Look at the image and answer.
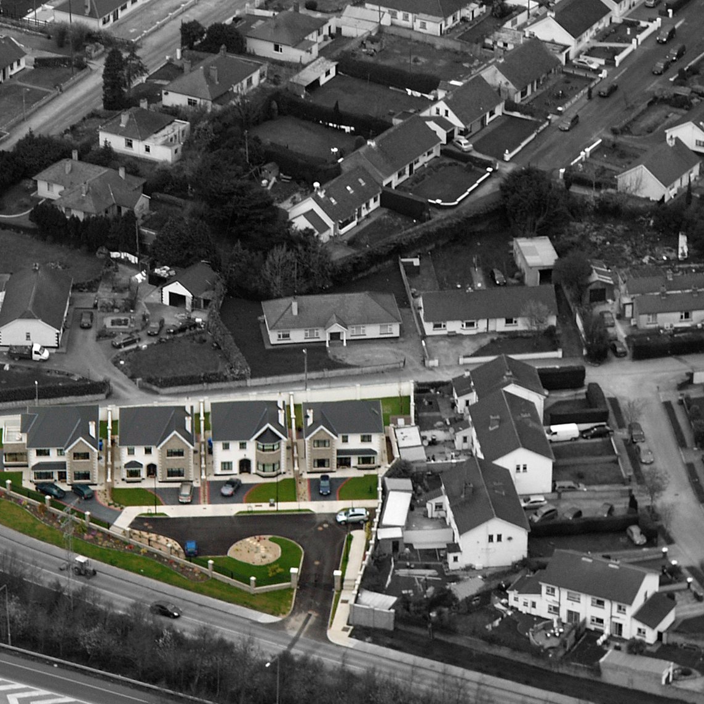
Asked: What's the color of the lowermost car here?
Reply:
black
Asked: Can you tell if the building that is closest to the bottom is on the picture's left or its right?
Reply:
right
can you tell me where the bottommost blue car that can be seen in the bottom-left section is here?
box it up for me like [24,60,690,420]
[184,541,198,559]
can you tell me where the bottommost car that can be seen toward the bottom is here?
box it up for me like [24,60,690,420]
[149,600,183,621]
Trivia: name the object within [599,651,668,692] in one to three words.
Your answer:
building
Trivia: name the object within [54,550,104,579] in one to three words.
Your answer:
work vehicle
